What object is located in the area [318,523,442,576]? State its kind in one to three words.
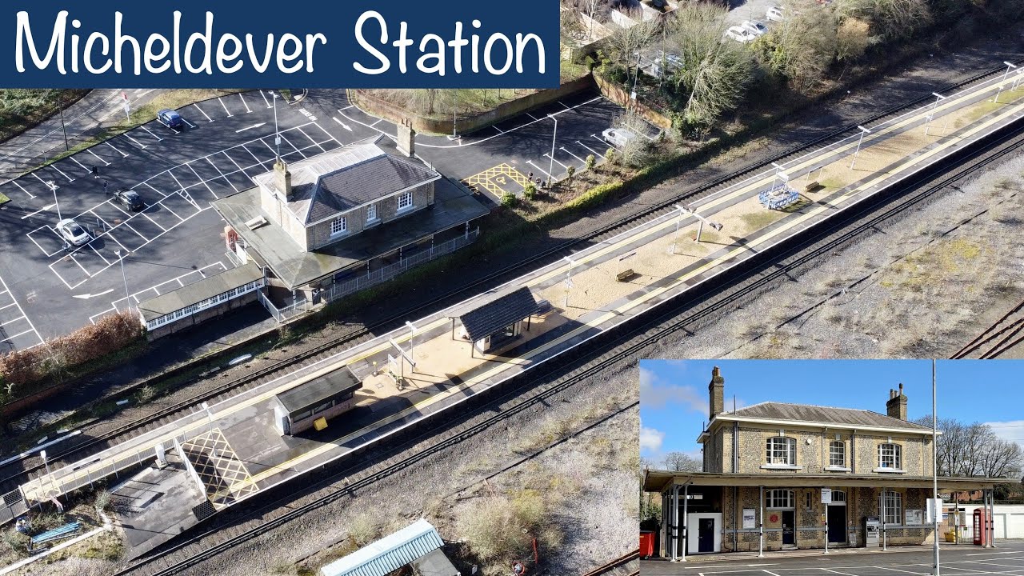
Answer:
shed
